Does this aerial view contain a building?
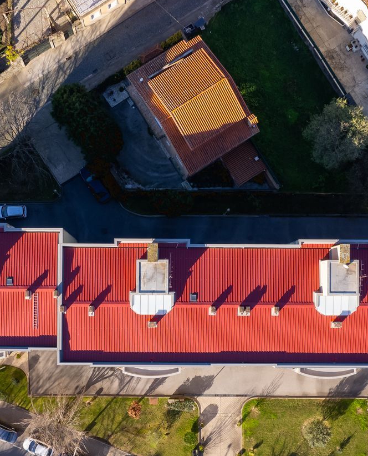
Yes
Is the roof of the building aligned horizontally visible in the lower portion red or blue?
red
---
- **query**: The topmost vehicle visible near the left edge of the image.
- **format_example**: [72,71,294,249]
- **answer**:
[0,202,31,222]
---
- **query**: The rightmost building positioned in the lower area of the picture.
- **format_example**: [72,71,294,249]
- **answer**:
[58,238,368,379]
